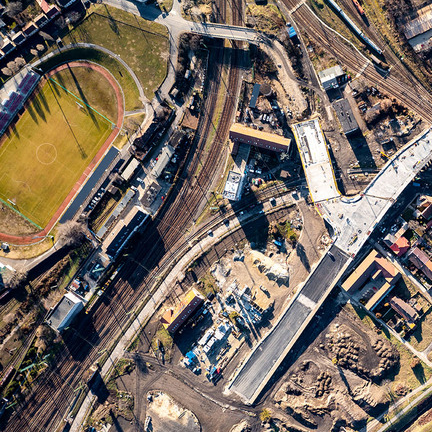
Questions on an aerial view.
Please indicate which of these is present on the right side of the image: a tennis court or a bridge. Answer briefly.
bridge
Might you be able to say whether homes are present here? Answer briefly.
Yes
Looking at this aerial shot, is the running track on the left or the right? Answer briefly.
left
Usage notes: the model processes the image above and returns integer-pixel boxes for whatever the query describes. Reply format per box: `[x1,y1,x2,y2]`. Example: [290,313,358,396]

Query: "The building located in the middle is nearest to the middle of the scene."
[224,171,246,201]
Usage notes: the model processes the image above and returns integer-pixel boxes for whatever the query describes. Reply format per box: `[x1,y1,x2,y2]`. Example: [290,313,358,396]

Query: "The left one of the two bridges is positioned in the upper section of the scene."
[173,17,275,48]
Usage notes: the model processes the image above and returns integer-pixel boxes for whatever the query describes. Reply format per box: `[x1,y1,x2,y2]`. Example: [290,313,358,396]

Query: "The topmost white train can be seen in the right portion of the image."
[329,0,379,51]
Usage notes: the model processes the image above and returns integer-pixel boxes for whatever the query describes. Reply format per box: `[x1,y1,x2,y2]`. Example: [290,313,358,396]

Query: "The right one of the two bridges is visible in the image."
[229,118,432,402]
